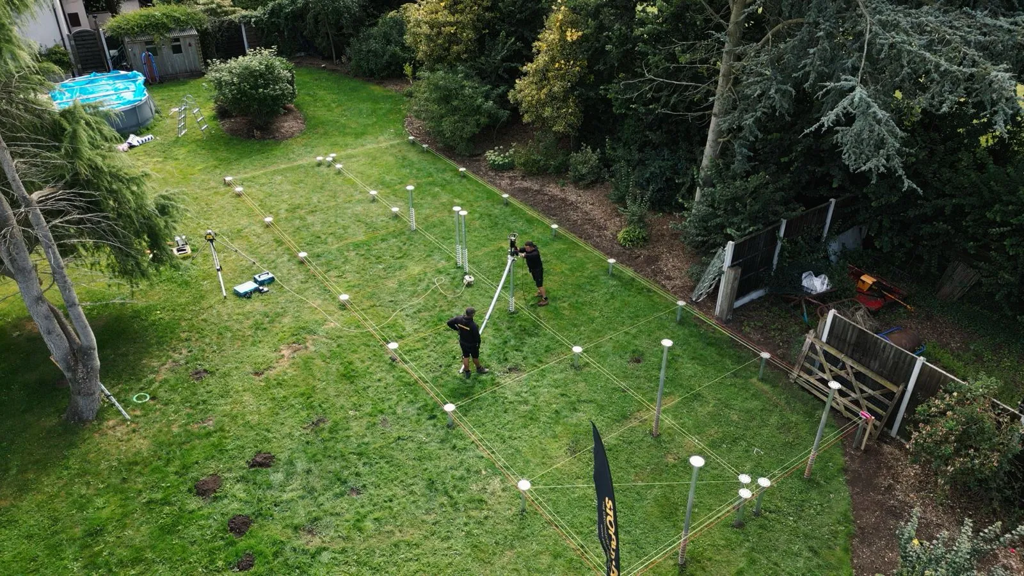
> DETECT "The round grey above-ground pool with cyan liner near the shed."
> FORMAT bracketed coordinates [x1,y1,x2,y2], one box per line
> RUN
[45,68,172,133]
